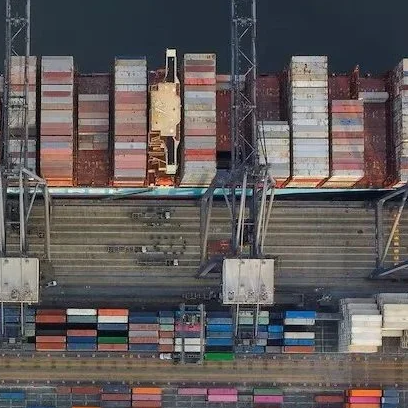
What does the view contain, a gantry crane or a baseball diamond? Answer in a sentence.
Visible in the photo is a gantry crane.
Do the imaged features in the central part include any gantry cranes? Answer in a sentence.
Yes, in the central part there is a gantry crane.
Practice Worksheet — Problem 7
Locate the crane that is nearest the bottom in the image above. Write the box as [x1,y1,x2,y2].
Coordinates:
[169,304,205,363]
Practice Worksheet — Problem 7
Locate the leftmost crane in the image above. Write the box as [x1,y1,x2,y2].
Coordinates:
[0,0,59,340]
